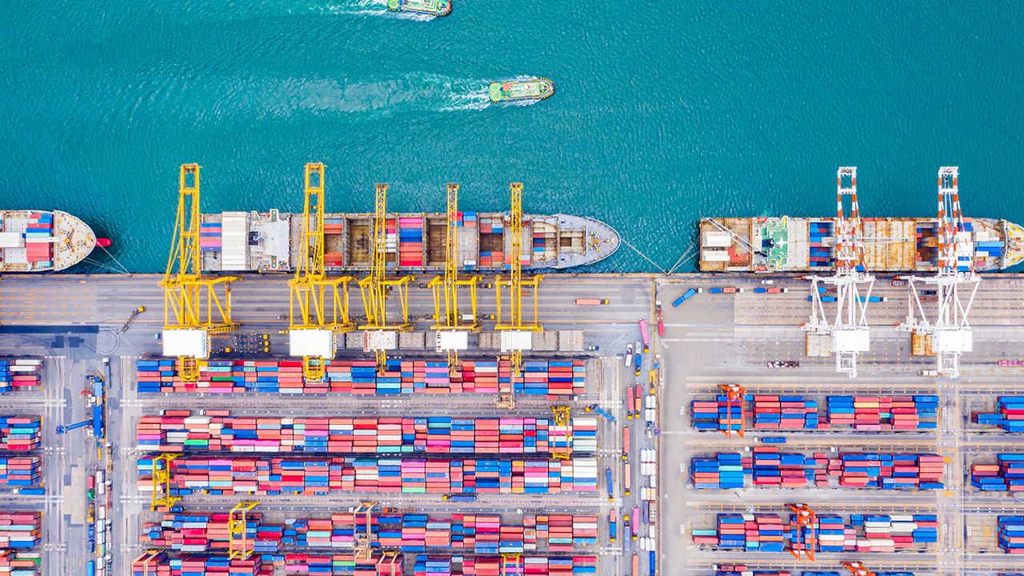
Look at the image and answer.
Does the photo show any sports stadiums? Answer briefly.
No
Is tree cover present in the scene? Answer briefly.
No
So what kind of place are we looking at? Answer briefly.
port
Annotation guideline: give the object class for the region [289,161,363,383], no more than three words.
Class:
container crane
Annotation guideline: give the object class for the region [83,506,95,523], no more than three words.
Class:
vehicle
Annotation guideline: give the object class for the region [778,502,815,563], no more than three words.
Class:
container crane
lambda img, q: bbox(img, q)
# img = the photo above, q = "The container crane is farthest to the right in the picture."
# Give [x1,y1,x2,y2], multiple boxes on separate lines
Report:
[881,163,980,382]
